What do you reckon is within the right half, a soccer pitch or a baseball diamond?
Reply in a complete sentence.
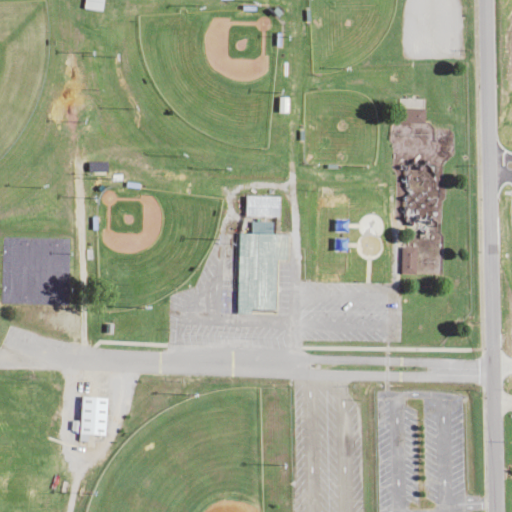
You can see a baseball diamond within the right half.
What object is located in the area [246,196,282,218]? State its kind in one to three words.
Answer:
shed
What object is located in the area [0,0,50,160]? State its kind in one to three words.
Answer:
baseball field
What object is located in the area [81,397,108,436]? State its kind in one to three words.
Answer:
building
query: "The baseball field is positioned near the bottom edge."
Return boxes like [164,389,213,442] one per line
[88,388,263,512]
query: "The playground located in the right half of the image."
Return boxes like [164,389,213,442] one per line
[401,154,442,239]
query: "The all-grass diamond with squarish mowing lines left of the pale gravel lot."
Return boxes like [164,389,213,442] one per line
[310,0,397,74]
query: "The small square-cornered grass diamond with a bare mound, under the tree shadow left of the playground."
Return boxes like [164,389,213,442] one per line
[304,90,378,166]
